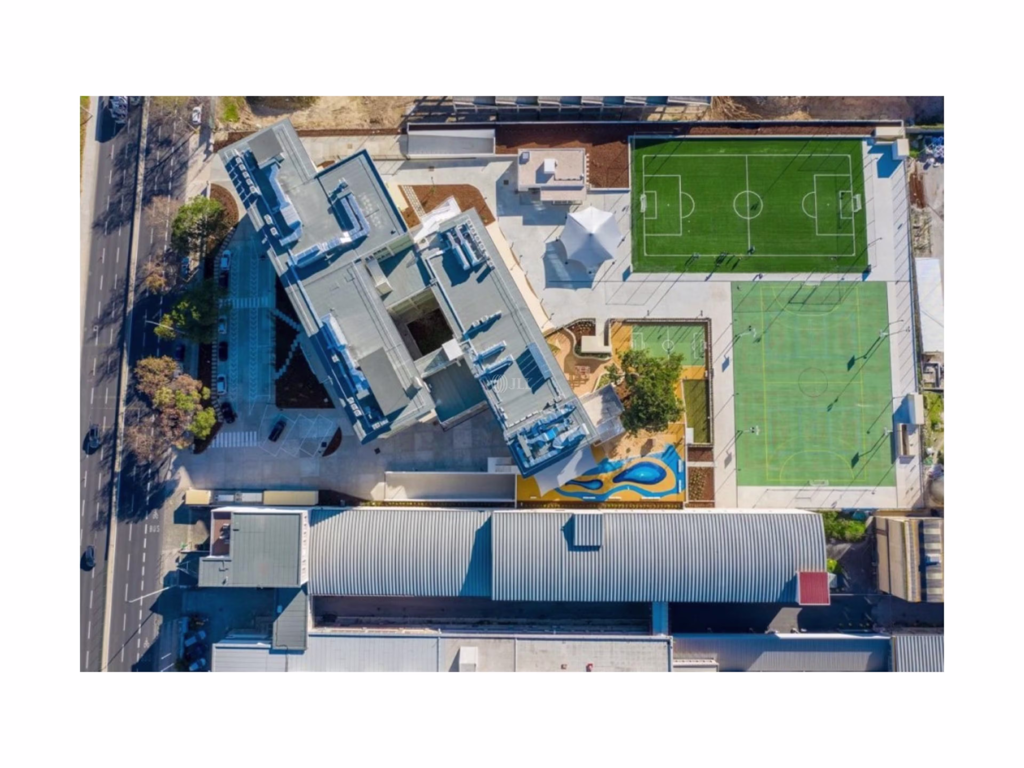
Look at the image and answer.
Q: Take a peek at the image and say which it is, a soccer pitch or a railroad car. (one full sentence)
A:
Of the two, only a soccer pitch appears.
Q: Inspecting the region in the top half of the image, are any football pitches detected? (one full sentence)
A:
Yes, there is a football pitch in the top half of the image.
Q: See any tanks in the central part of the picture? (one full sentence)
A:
No, no tank appears in the central part of the picture.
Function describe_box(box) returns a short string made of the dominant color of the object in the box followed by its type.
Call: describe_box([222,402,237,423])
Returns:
black car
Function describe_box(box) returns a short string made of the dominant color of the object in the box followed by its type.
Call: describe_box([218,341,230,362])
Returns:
black vehicle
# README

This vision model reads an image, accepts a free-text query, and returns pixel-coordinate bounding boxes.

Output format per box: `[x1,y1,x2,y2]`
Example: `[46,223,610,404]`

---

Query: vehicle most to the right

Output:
[269,421,287,442]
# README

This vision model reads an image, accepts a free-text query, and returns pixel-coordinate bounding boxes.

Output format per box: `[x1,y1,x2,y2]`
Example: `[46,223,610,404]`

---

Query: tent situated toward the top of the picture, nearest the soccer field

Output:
[556,201,625,275]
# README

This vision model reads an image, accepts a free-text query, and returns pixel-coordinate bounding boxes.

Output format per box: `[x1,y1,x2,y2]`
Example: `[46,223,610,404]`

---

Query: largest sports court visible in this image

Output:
[731,281,896,487]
